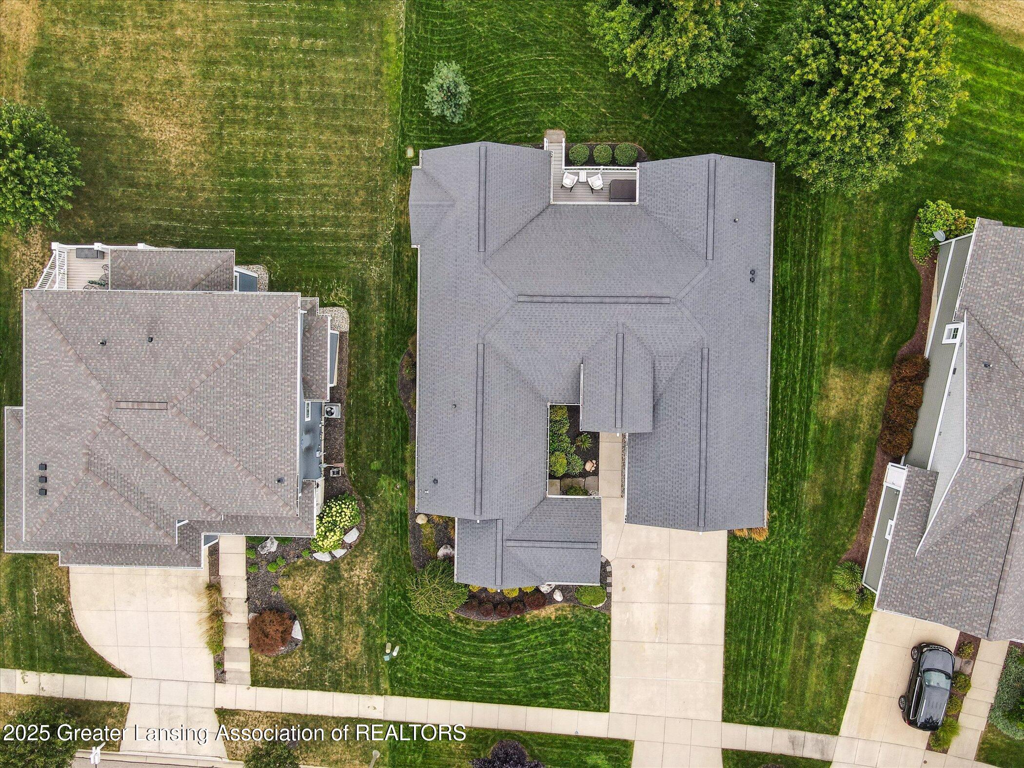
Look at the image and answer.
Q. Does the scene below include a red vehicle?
No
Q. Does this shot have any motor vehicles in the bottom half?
Yes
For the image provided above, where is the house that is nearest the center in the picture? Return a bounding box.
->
[410,141,775,592]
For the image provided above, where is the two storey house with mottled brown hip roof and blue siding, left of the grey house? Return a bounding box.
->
[3,248,338,569]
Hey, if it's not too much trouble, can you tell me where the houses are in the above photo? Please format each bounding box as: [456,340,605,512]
[861,218,1024,645]
[410,141,775,592]
[3,248,338,569]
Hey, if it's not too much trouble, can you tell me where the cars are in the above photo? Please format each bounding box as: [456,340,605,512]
[897,639,955,733]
